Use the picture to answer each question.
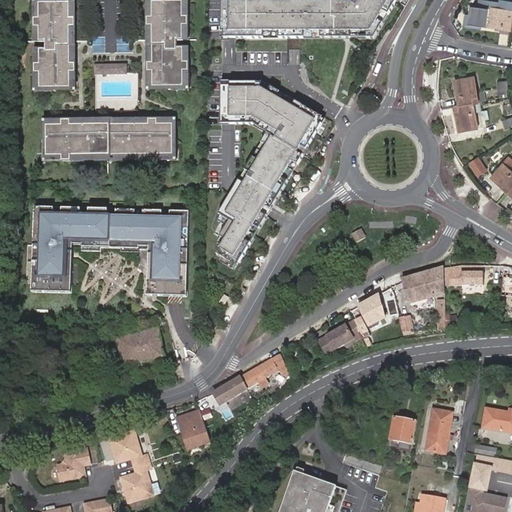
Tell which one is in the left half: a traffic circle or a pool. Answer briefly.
pool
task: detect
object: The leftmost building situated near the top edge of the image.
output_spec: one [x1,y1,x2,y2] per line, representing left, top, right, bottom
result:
[32,0,76,92]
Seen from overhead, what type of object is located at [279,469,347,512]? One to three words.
building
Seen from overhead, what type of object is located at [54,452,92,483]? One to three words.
house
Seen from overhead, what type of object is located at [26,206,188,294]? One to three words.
house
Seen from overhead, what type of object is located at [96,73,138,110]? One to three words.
swimming pool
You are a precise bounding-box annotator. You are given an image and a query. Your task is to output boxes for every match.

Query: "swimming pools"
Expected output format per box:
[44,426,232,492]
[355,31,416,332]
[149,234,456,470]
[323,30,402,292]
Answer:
[96,73,138,110]
[219,404,232,418]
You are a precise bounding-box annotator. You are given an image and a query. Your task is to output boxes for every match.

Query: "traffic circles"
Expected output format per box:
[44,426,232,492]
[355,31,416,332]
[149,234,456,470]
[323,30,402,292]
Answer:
[342,108,440,206]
